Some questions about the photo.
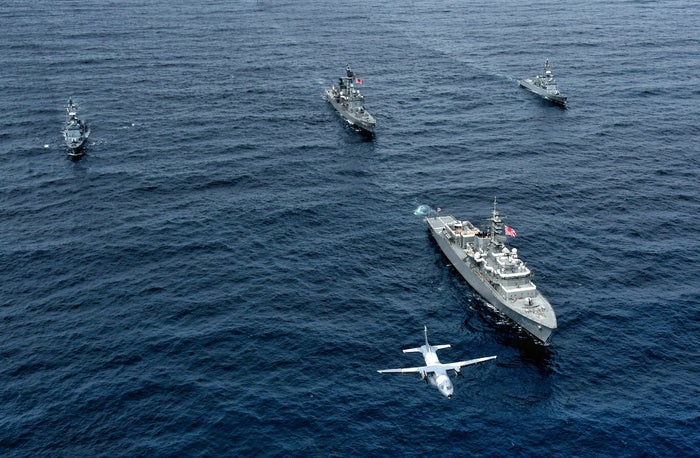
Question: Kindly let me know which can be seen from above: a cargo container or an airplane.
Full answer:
Looking from above, you can make out an airplane.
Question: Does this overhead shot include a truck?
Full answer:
No, there's no truck here.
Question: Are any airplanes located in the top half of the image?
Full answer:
No, there is no airplane in the top half of the image.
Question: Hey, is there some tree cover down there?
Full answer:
No, there is no tree cover in the image.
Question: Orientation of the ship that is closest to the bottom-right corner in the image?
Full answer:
I'd say the ship that is closest to the bottom-right corner is aligned at an angle in the picture.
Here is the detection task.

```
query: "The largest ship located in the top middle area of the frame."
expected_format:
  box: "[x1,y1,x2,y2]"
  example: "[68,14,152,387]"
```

[325,65,376,129]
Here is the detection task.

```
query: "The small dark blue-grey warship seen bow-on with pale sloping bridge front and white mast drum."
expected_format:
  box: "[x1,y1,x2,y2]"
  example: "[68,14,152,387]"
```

[64,96,83,154]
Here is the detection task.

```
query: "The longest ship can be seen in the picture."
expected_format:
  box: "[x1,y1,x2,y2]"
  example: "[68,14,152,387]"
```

[425,193,557,343]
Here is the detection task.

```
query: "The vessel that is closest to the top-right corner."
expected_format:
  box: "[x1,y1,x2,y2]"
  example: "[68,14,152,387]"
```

[518,62,568,105]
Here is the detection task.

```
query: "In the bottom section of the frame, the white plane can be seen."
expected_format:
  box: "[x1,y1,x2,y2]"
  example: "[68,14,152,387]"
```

[377,324,497,396]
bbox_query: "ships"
[425,193,557,343]
[64,96,83,154]
[325,65,376,129]
[518,62,568,105]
